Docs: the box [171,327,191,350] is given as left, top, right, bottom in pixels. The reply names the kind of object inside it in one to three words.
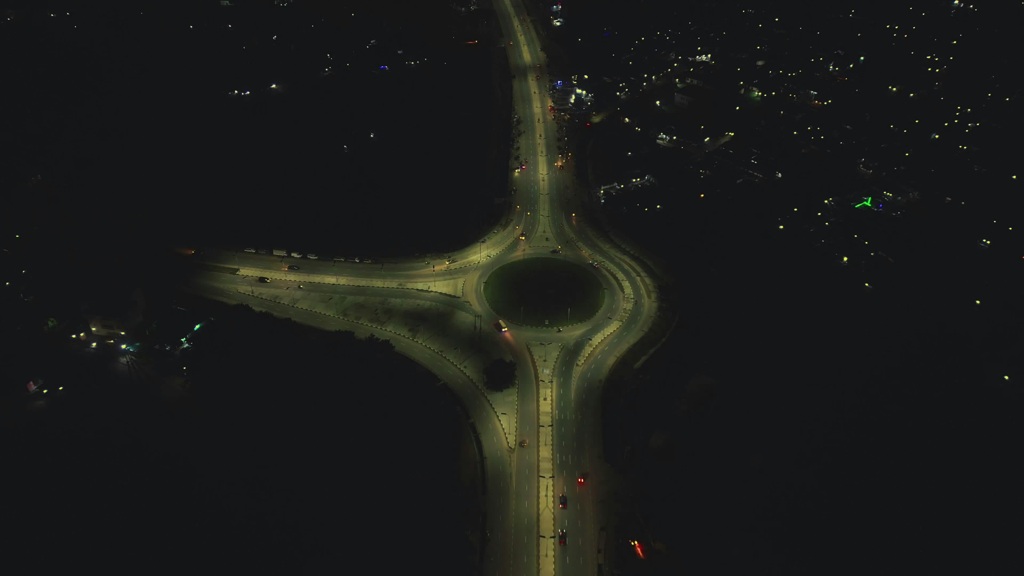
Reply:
house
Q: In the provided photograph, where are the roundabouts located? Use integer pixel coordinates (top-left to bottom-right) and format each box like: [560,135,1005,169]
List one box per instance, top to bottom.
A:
[459,245,626,343]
